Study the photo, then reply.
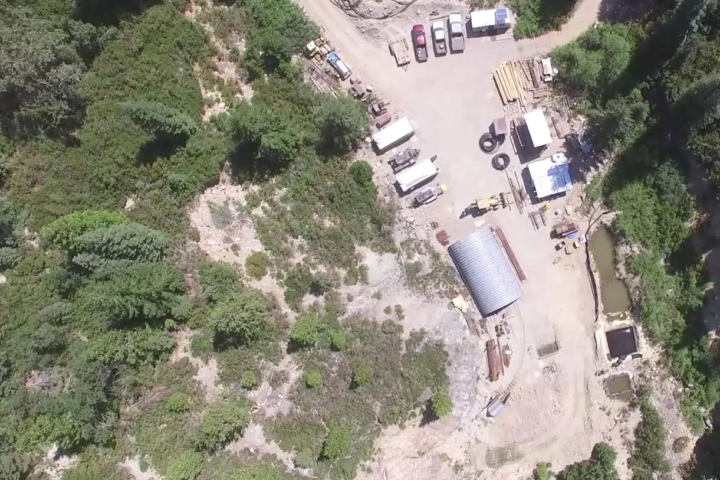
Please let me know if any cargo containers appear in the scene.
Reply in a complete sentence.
Yes, looking at the shot, I can spot a cargo container.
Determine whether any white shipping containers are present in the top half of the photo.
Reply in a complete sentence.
Yes, in the top half of the photo there is a white shipping container.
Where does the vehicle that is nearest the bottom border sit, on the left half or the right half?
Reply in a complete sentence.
You can find the vehicle that is nearest the bottom border on the right side of the picture.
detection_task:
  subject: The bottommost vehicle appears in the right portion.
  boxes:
[552,218,578,238]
